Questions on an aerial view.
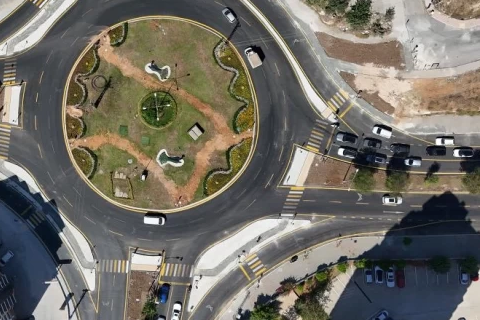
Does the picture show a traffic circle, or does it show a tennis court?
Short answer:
traffic circle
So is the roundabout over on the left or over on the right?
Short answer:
left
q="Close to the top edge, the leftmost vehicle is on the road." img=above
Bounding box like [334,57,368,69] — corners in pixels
[222,7,236,23]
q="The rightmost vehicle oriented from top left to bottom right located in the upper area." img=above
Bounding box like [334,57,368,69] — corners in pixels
[244,45,263,69]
